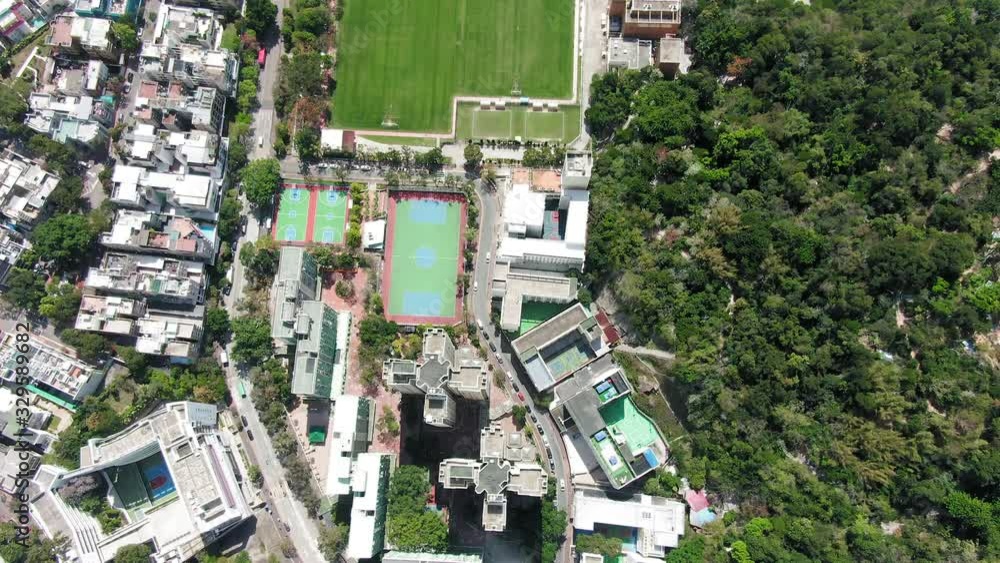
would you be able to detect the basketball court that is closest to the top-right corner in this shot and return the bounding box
[540,196,566,242]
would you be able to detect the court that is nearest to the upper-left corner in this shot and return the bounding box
[272,184,350,246]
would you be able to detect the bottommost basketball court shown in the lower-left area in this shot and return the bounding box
[106,449,184,524]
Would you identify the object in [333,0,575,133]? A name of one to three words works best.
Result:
sports field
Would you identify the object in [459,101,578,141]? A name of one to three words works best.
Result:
sports field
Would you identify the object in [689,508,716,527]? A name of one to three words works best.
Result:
shed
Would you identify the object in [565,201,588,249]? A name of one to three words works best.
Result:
building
